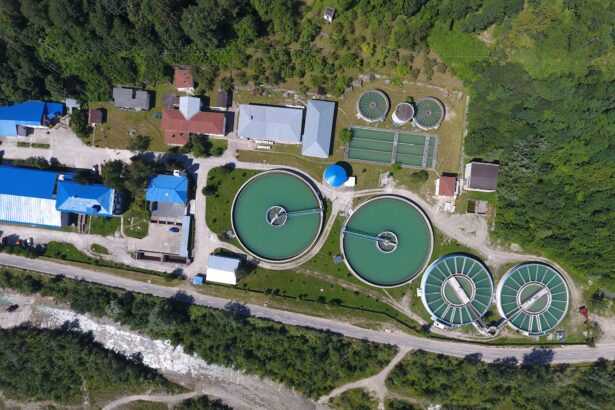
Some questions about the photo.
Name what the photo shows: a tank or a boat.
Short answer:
tank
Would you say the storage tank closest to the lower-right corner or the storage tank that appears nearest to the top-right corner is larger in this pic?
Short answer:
the storage tank closest to the lower-right corner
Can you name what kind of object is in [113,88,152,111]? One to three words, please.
house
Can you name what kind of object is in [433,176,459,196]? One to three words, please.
building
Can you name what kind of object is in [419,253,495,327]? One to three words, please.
storage tank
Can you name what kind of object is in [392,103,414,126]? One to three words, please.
silo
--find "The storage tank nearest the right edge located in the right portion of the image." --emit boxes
[491,261,571,337]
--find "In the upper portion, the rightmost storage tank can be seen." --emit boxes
[410,97,446,133]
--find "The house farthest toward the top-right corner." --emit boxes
[464,162,499,190]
